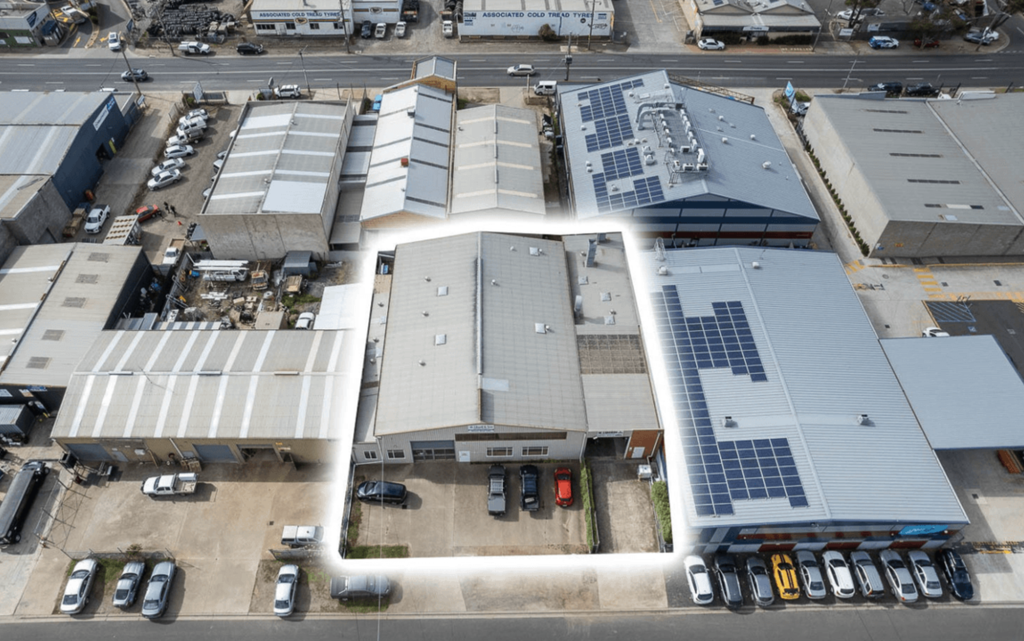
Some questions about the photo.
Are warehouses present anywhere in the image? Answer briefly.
Yes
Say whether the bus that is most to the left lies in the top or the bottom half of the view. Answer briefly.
bottom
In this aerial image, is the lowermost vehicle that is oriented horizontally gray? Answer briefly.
Yes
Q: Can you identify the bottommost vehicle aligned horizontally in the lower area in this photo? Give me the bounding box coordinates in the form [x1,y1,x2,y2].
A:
[330,573,392,602]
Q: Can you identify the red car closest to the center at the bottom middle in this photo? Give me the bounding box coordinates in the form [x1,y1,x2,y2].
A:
[553,468,575,508]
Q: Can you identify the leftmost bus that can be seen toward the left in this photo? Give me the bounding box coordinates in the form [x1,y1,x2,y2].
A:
[0,458,56,555]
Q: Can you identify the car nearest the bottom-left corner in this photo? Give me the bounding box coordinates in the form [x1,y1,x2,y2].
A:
[59,560,100,615]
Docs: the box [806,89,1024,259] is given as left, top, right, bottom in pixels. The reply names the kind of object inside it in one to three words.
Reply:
warehouse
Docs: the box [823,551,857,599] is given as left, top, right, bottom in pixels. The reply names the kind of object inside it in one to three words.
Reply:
car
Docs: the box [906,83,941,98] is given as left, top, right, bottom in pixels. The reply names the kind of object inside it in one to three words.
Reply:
vehicle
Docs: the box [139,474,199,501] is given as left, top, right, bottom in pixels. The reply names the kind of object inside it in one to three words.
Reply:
vehicle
